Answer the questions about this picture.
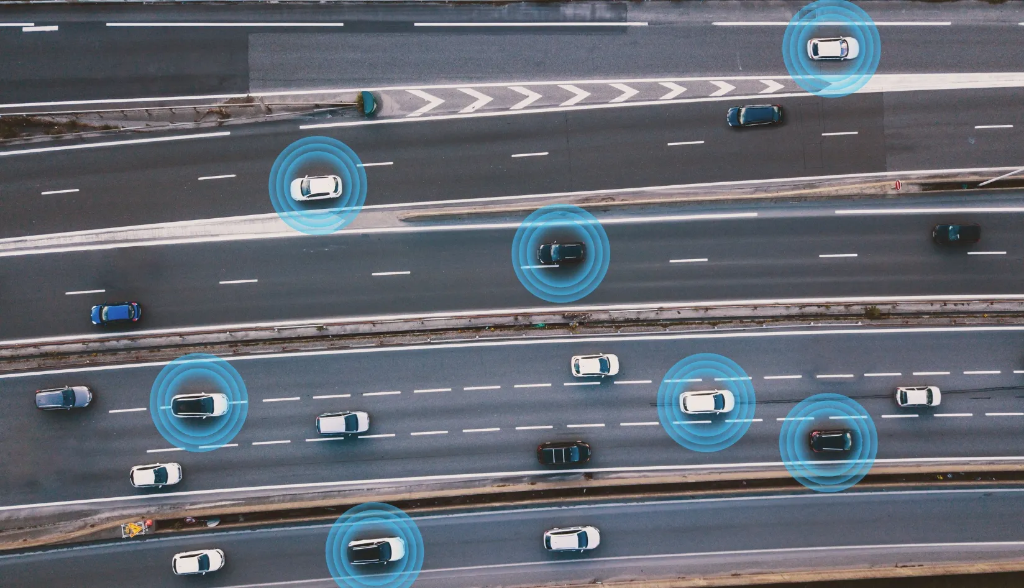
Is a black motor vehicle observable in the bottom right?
Yes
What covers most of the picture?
paved ground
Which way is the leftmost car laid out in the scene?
from side to side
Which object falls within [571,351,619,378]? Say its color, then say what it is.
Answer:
white car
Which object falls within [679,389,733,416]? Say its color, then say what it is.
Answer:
white car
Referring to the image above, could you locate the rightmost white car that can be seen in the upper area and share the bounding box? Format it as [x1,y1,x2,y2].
[807,33,859,61]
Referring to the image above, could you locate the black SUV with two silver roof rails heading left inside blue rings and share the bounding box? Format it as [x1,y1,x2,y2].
[537,239,586,265]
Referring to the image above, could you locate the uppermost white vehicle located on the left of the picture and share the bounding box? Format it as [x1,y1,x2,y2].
[292,174,343,201]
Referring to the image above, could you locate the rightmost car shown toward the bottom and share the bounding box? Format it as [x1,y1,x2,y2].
[894,383,940,409]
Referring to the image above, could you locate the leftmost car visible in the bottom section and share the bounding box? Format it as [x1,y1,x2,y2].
[36,383,94,410]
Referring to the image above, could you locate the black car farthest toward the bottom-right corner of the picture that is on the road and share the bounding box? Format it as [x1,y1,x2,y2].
[808,429,851,455]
